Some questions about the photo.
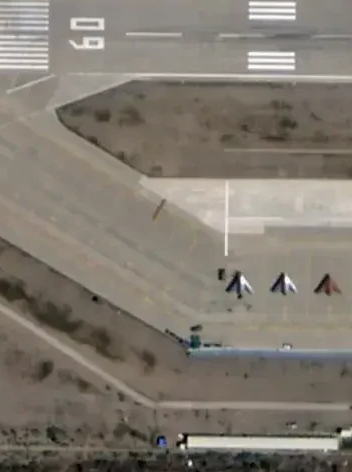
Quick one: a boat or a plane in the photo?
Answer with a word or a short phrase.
plane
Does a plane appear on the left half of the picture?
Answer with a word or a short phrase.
No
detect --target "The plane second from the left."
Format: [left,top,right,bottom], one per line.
[274,272,297,296]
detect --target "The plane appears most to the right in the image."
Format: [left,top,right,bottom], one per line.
[318,273,341,297]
